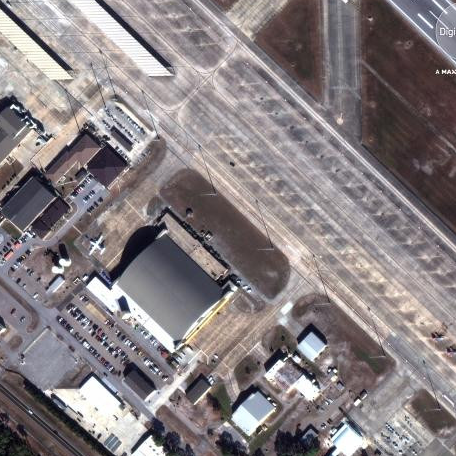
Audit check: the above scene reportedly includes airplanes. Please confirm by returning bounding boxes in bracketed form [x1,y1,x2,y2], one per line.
[430,333,445,345]
[445,347,456,359]
[88,234,104,256]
